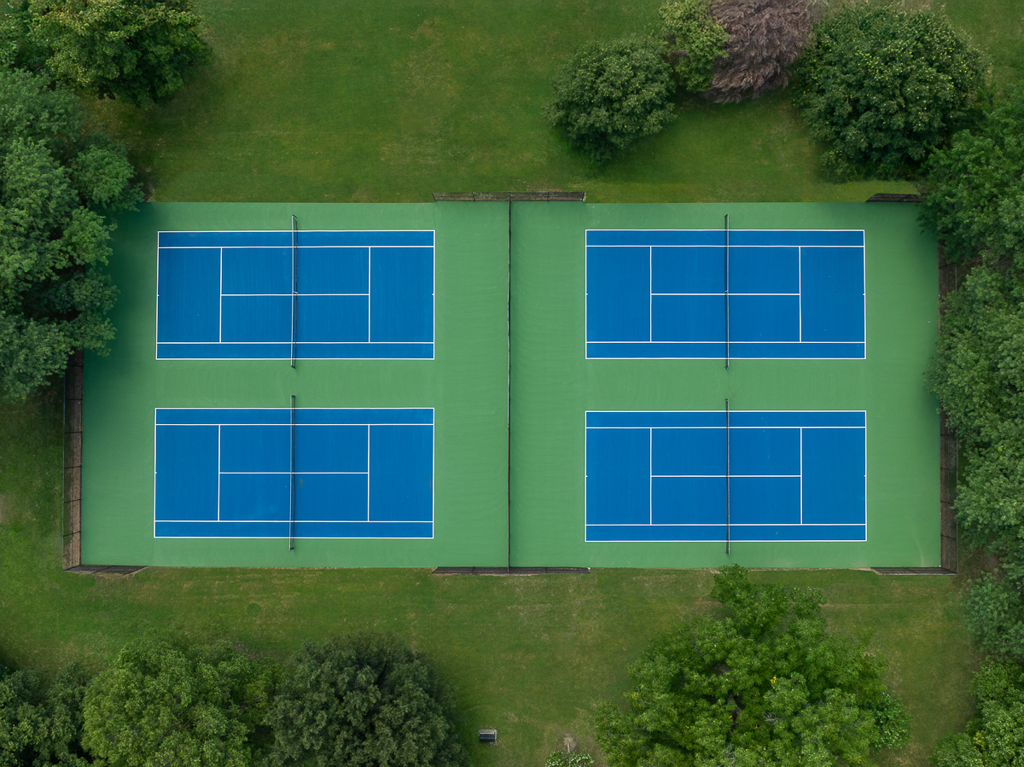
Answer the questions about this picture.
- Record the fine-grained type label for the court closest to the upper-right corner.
tennis court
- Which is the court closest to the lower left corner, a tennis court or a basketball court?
tennis court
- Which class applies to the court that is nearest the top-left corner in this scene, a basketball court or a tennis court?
tennis court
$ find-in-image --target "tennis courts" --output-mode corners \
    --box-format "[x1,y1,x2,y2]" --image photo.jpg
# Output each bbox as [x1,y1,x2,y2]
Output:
[586,230,865,358]
[157,231,434,359]
[155,408,433,538]
[586,411,867,541]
